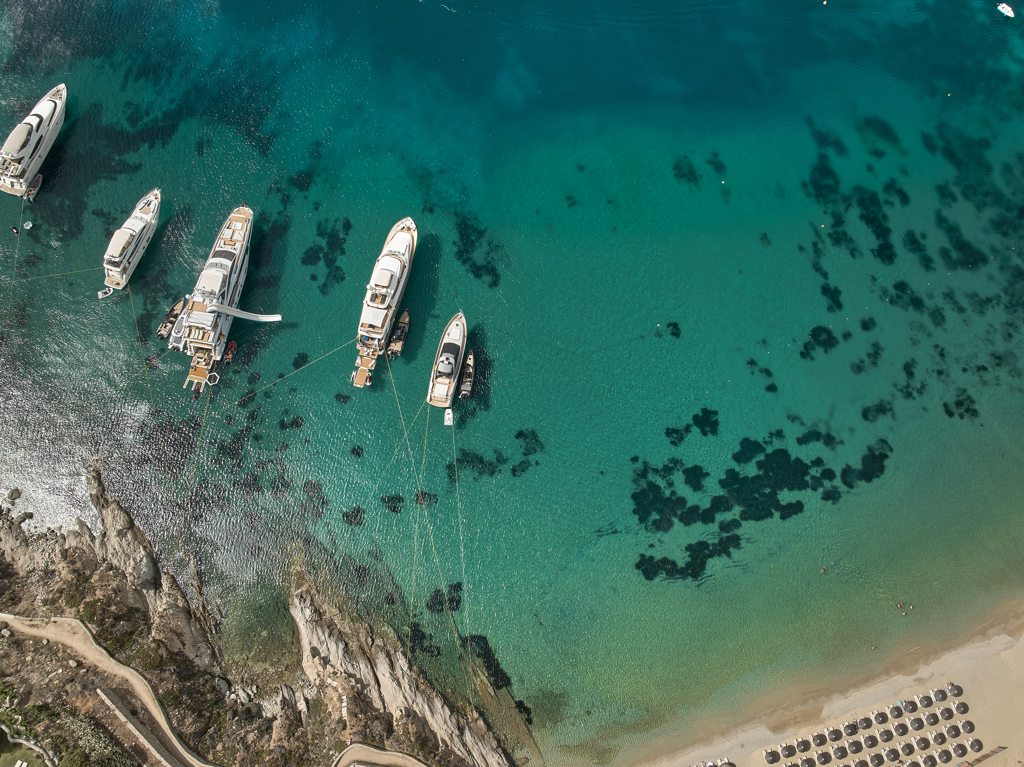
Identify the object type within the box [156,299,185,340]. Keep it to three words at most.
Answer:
boat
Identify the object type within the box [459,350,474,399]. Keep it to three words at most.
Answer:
boat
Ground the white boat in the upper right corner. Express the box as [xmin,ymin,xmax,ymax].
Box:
[997,2,1015,20]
